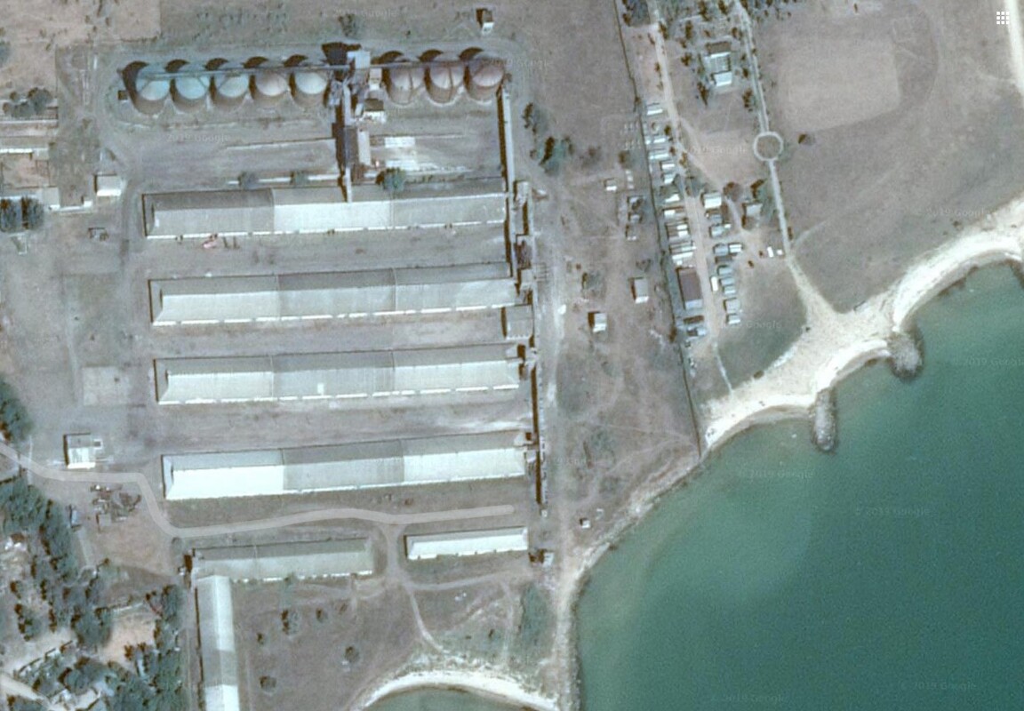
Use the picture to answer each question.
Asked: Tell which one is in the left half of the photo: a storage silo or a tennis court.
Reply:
storage silo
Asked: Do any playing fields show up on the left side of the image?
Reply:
No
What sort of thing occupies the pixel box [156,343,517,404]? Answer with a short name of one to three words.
building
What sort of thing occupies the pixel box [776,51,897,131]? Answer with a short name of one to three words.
sports field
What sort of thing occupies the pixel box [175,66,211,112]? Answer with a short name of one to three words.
silo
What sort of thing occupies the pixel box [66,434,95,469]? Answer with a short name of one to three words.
house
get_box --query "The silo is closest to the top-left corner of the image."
[135,67,172,114]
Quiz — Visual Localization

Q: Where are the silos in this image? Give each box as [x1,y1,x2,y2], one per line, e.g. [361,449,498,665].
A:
[468,54,505,100]
[388,58,425,104]
[214,64,251,110]
[135,67,172,114]
[175,66,211,112]
[293,61,329,107]
[429,56,465,102]
[254,63,290,109]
